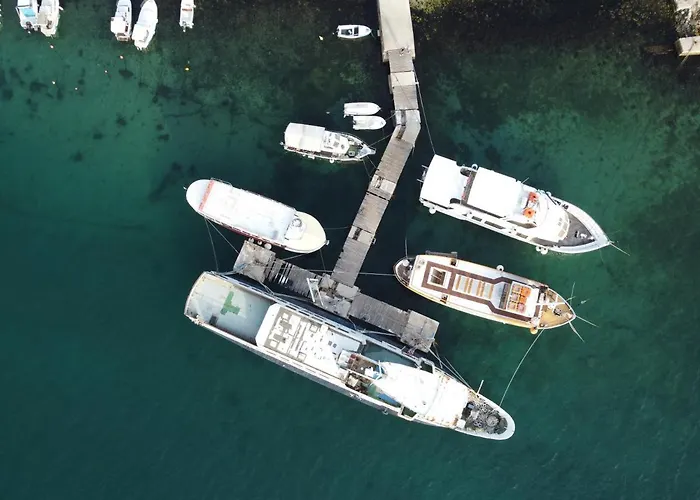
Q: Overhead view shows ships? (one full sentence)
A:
Yes, there is a ship in the image.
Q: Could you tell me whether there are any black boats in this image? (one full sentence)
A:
No, the frame has no black boat in it.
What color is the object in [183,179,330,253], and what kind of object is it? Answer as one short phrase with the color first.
white boat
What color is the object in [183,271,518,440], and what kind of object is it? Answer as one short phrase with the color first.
white ship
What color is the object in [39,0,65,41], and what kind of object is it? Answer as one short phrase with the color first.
white boat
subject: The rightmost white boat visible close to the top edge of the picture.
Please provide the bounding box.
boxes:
[336,25,373,39]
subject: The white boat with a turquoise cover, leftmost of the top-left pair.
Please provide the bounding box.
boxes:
[16,0,40,33]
